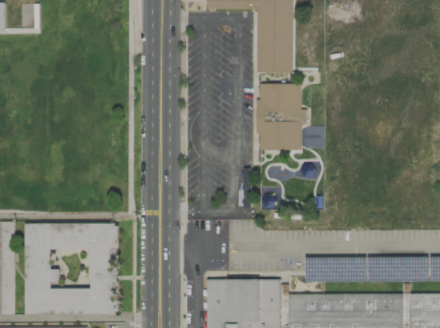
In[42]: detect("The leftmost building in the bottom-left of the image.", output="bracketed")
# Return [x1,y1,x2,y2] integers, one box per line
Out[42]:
[2,222,14,314]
